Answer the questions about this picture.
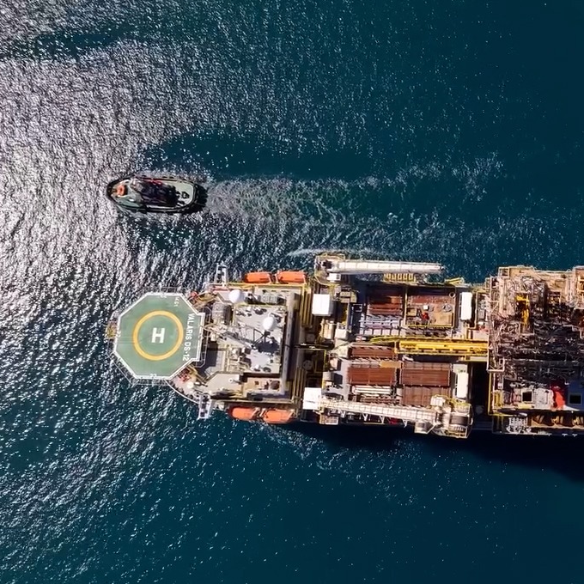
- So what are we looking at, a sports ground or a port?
port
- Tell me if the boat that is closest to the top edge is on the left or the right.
left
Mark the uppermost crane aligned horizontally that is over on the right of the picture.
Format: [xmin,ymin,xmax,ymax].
[305,256,447,289]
